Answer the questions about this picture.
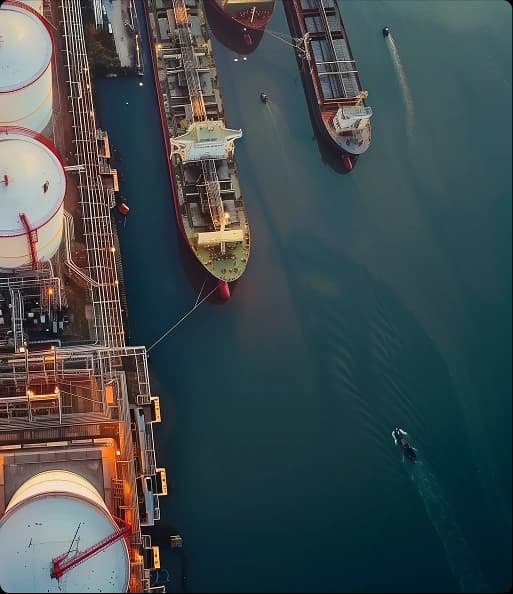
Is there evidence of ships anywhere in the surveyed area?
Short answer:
Yes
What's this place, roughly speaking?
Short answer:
industrial area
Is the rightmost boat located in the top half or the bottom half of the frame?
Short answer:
bottom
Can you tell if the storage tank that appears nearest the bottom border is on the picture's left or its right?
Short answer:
left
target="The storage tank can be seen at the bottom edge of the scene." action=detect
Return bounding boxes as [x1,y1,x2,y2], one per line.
[0,470,134,594]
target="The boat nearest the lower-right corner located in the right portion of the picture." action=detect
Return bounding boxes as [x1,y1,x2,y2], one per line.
[396,430,418,462]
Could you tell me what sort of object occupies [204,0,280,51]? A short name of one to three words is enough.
ship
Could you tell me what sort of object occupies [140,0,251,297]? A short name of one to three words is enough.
ship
